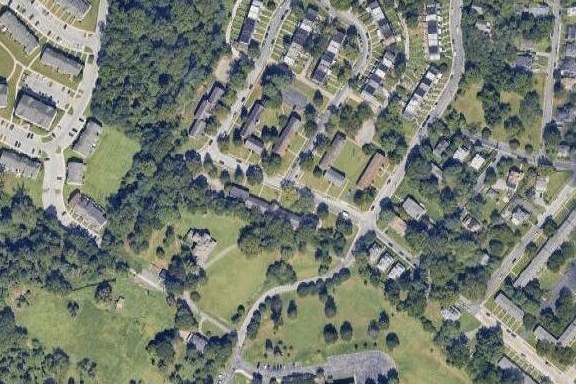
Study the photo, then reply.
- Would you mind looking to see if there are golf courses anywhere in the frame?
No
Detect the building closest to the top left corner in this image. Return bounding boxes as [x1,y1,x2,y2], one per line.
[0,10,41,56]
